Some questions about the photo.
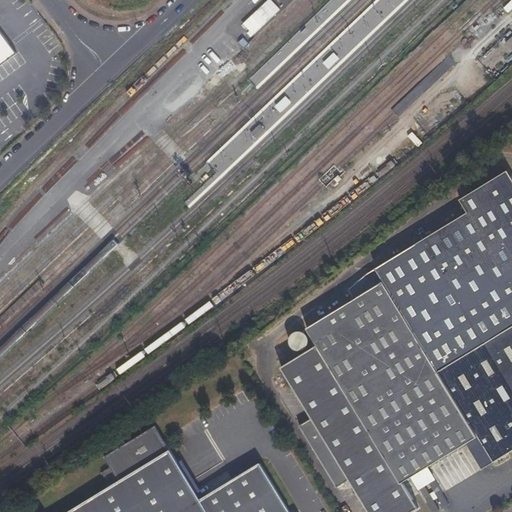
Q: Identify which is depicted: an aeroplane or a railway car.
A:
railway car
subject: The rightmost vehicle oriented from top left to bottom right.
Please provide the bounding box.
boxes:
[424,483,439,502]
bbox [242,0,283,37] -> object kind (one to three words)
shed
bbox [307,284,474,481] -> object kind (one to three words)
building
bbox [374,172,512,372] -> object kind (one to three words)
building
